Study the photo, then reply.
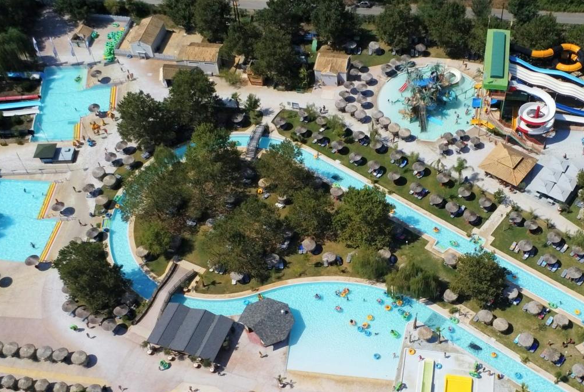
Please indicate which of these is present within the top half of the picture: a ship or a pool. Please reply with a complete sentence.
Looking within the top half of the picture, you will find a pool.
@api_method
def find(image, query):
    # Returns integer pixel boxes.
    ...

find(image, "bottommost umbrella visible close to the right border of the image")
[570,363,584,378]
